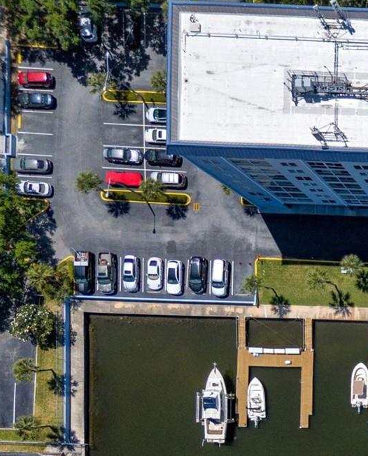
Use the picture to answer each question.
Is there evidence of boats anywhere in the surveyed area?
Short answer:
Yes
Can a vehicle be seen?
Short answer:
Yes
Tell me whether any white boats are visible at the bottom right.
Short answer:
Yes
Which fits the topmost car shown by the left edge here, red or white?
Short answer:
red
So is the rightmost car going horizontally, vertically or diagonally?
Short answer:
vertically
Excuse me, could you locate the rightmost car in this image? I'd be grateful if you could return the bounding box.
[209,257,229,298]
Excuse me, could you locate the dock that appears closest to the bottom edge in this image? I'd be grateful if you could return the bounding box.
[236,348,314,429]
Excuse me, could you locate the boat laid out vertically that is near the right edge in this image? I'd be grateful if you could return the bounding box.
[351,359,368,413]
